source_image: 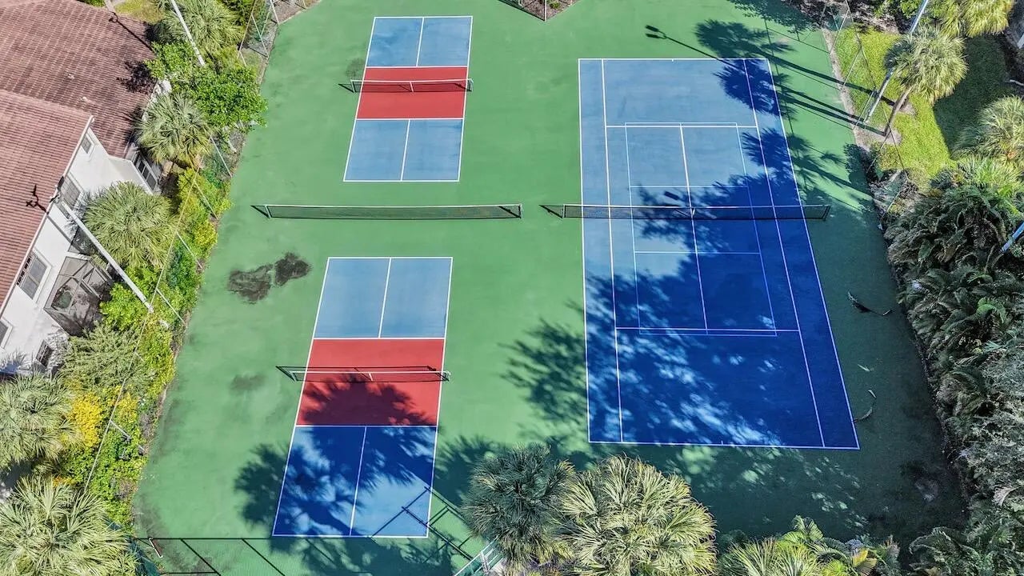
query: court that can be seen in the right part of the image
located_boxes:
[579,59,857,447]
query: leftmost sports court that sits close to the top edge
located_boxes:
[344,17,472,181]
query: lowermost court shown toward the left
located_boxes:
[274,257,452,538]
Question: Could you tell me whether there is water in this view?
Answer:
No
